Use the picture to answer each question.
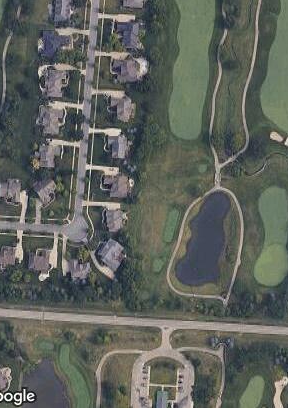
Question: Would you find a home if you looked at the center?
Yes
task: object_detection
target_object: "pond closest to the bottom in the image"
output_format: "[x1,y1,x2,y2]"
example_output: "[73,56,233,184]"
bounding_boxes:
[17,359,72,408]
